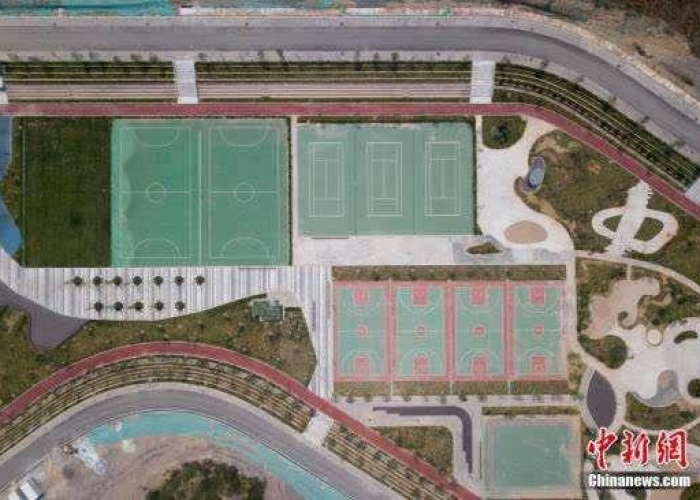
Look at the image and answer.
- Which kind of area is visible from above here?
sports ground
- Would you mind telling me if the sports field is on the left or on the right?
left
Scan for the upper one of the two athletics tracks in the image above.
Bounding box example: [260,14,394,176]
[0,103,700,222]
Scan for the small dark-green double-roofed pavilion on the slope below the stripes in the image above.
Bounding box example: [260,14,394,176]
[253,300,284,323]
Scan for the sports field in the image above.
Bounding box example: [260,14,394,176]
[23,120,111,267]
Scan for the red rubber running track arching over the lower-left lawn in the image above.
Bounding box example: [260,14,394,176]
[0,341,481,500]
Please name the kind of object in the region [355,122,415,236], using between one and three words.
tennis court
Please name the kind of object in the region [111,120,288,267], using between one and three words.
sports court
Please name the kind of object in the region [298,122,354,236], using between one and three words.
tennis court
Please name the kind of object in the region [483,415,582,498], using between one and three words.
sports court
